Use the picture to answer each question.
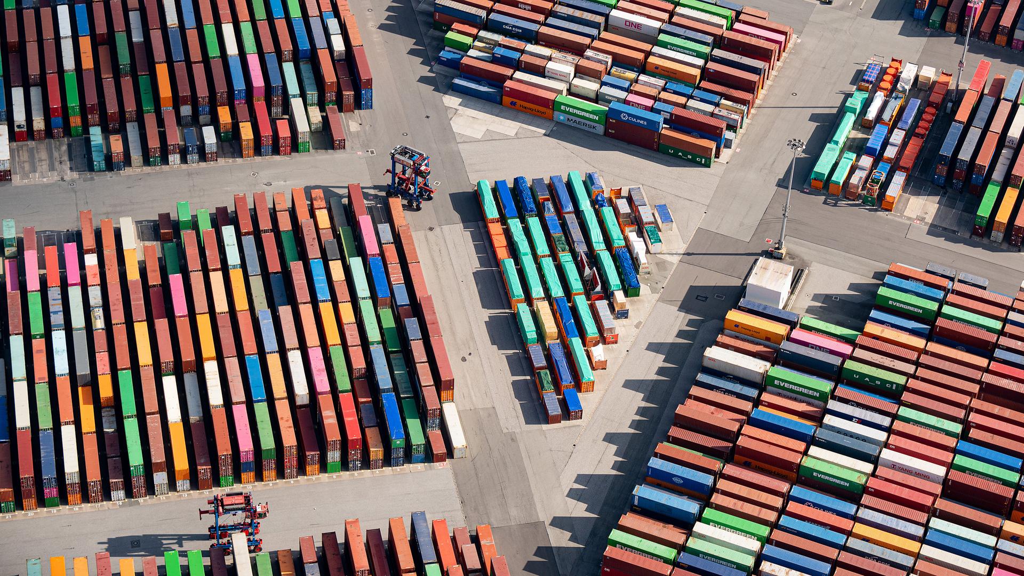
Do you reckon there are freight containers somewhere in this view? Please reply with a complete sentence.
Yes, a freight container is visible in the scene.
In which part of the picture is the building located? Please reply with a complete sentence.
The building sits in the right section of the image.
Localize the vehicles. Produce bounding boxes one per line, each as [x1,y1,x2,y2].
[199,487,270,555]
[382,143,437,210]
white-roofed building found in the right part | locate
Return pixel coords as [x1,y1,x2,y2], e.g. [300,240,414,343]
[744,257,793,310]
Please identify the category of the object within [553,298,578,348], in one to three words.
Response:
shipping container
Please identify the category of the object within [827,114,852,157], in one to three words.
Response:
shipping container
